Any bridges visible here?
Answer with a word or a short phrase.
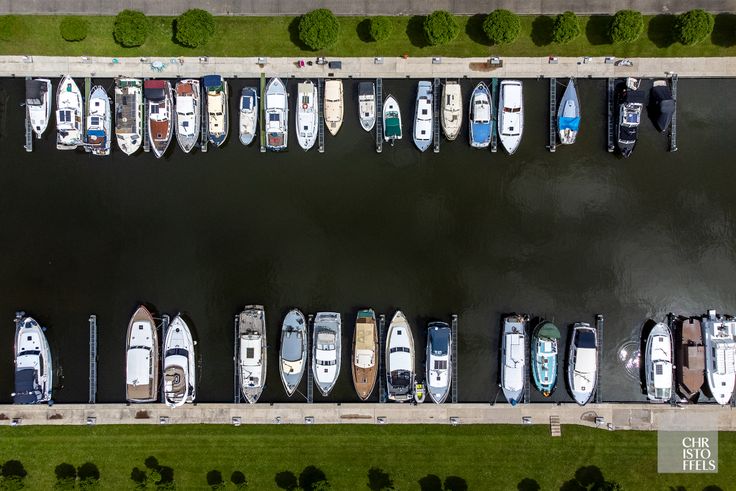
No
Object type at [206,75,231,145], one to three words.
boat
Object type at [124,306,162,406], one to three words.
boat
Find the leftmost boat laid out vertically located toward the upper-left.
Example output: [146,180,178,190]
[24,75,57,142]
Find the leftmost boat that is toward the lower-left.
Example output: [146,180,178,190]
[11,318,57,406]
